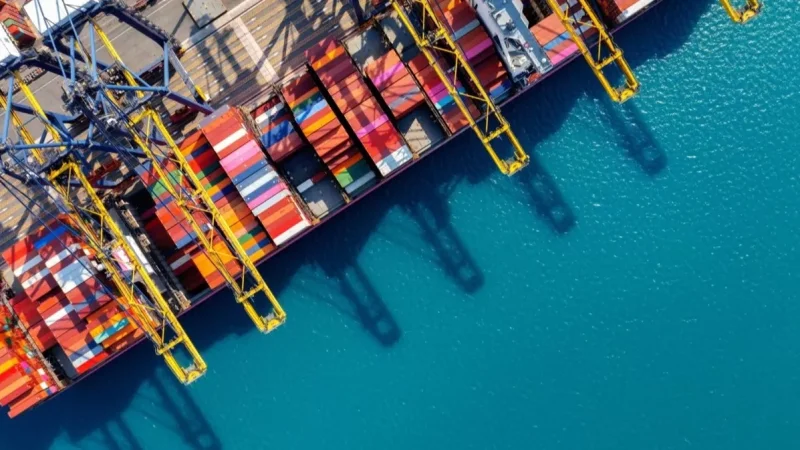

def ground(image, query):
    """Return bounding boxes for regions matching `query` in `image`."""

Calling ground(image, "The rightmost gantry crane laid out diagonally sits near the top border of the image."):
[545,0,643,106]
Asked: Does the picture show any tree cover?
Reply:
No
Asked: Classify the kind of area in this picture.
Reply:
port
